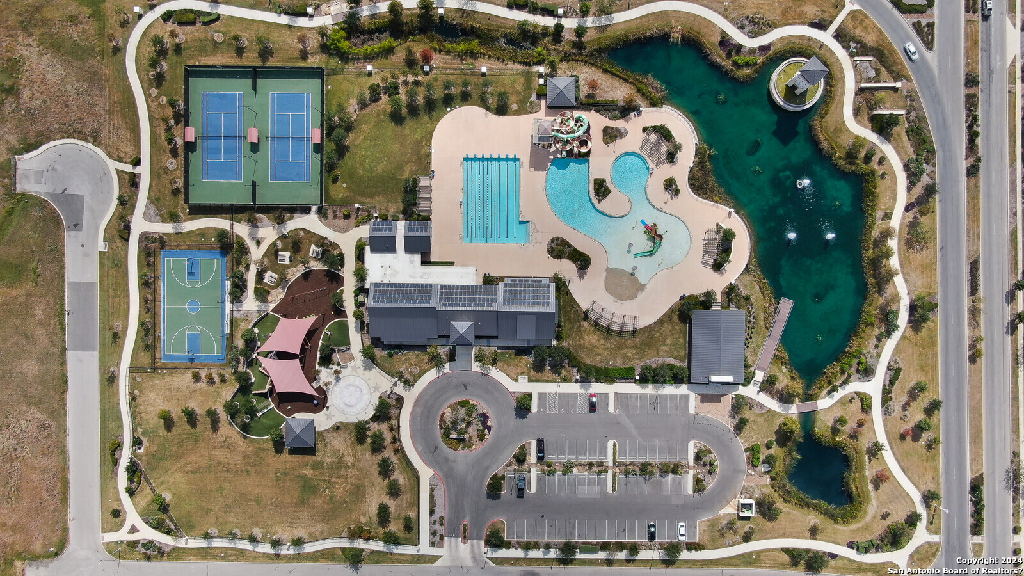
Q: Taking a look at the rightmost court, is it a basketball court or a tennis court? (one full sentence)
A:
The rightmost court is a tennis court.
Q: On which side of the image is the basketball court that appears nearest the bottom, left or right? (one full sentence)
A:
The basketball court that appears nearest the bottom appears in the left half of the scene.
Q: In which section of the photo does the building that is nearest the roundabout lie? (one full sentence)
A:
The building that is nearest the roundabout is in the center part of the image.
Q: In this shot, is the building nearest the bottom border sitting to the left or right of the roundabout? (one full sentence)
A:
The building nearest the bottom border is to the left of the roundabout.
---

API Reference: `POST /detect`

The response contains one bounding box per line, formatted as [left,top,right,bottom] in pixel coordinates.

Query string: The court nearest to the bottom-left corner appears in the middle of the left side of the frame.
[161,250,226,362]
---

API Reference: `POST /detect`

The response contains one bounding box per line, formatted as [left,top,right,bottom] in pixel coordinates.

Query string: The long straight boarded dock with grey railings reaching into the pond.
[755,297,795,375]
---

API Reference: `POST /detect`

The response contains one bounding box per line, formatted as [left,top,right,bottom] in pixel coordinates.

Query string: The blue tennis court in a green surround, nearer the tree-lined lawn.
[254,69,318,203]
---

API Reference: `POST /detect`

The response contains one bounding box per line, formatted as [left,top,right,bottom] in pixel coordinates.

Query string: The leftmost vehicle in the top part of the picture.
[903,42,918,61]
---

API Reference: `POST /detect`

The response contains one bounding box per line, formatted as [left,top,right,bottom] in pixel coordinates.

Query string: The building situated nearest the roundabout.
[364,221,558,371]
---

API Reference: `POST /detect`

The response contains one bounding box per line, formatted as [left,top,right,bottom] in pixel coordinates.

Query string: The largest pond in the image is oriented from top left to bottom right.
[613,39,866,418]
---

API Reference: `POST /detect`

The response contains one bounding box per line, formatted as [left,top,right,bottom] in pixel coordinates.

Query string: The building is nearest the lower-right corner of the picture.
[687,310,745,394]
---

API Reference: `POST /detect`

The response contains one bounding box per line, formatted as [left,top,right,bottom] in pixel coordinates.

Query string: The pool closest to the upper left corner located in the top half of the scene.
[460,154,531,244]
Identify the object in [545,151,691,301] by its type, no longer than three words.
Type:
swimming pool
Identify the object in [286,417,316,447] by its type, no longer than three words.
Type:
building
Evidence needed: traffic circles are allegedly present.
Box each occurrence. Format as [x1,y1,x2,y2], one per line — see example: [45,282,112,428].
[410,371,518,478]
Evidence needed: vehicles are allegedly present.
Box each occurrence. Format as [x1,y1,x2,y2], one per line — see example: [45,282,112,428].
[517,473,524,496]
[903,42,918,61]
[647,521,656,539]
[677,522,686,540]
[589,394,597,411]
[537,438,544,459]
[982,0,993,19]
